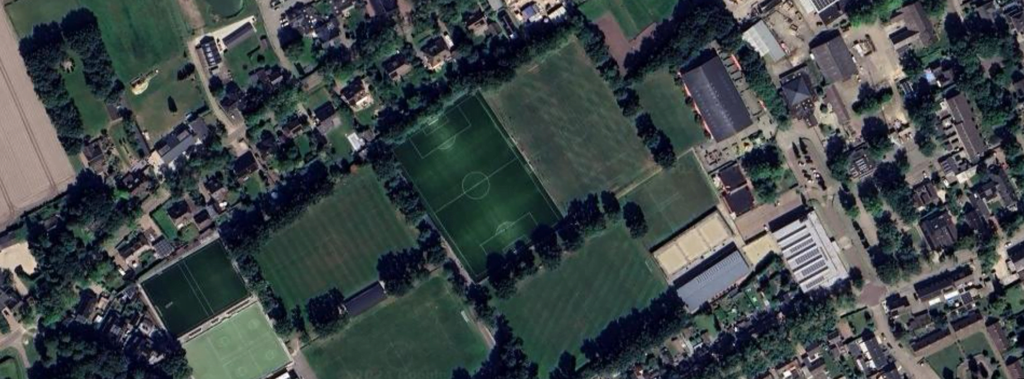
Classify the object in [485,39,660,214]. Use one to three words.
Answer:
soccer field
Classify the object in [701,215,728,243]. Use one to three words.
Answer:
sports court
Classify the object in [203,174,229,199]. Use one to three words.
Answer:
house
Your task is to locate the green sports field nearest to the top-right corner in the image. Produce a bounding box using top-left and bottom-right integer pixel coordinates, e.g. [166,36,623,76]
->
[573,0,679,41]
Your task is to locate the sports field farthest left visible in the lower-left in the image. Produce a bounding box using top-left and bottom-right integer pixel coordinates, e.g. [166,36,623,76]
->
[143,238,249,337]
